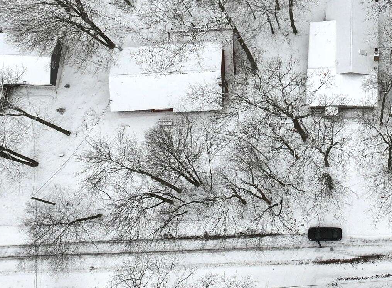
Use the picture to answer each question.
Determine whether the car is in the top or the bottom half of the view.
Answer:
bottom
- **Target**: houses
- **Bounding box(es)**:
[0,35,64,89]
[306,0,385,117]
[112,43,233,117]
